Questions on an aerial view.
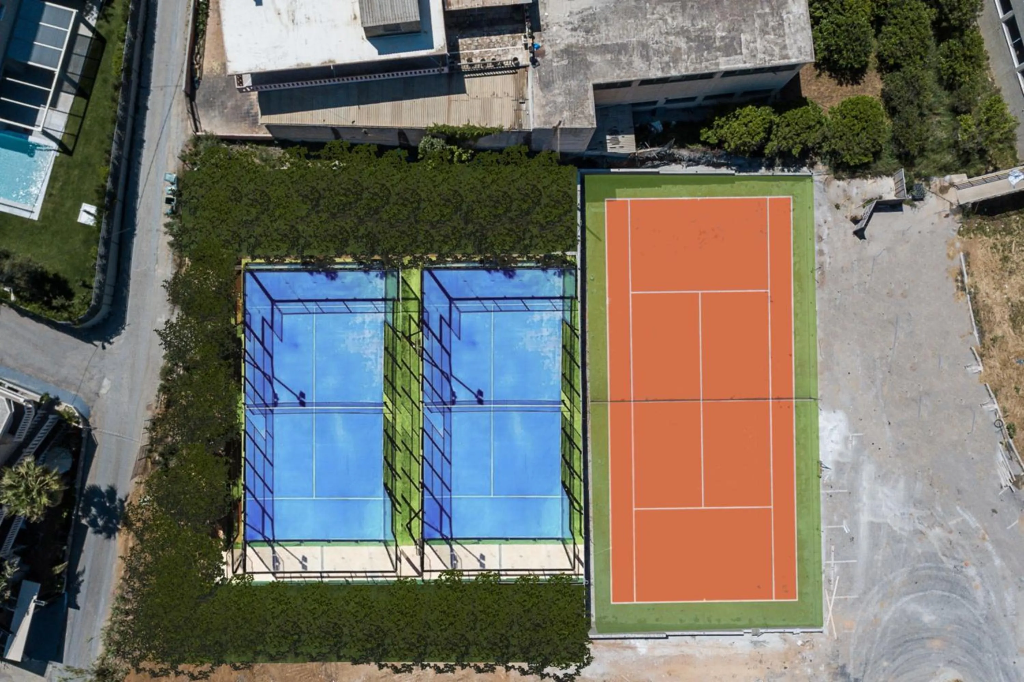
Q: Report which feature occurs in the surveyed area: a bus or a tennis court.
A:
tennis court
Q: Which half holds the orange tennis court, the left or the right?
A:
right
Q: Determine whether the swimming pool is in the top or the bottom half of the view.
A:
top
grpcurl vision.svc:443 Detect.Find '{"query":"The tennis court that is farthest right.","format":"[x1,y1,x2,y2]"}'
[582,172,825,636]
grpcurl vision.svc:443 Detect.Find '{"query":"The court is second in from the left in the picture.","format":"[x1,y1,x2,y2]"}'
[425,269,574,545]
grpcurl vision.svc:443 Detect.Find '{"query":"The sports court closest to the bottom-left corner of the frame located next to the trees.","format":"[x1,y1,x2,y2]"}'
[246,270,398,547]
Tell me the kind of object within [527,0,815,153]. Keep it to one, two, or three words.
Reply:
building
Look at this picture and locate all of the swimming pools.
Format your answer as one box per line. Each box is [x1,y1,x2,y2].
[0,130,58,220]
